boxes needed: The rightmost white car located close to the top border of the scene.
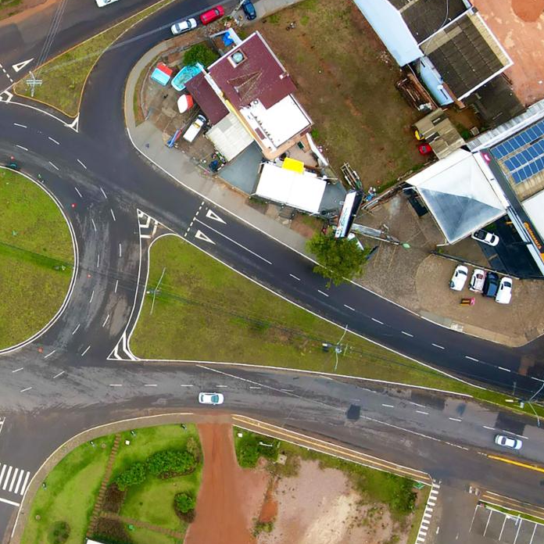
[170,18,198,33]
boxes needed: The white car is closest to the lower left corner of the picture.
[199,393,223,405]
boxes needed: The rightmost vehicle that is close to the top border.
[242,0,257,20]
